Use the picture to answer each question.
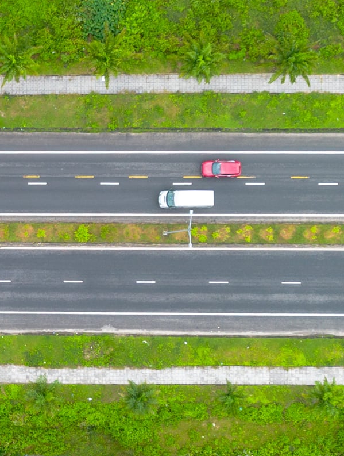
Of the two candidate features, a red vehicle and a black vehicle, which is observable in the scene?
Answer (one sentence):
I can see a red vehicle in this picture.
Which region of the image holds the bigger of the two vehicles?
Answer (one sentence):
The bigger of the two vehicles is located in the center region of the scene.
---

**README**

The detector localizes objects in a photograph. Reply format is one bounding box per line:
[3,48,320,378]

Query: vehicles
[201,160,240,178]
[156,189,216,210]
